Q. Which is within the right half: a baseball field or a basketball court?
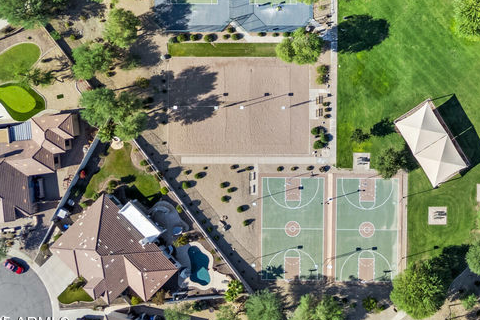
basketball court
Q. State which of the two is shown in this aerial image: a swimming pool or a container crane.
swimming pool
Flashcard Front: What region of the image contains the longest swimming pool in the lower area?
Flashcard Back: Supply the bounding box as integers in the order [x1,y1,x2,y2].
[187,244,213,288]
